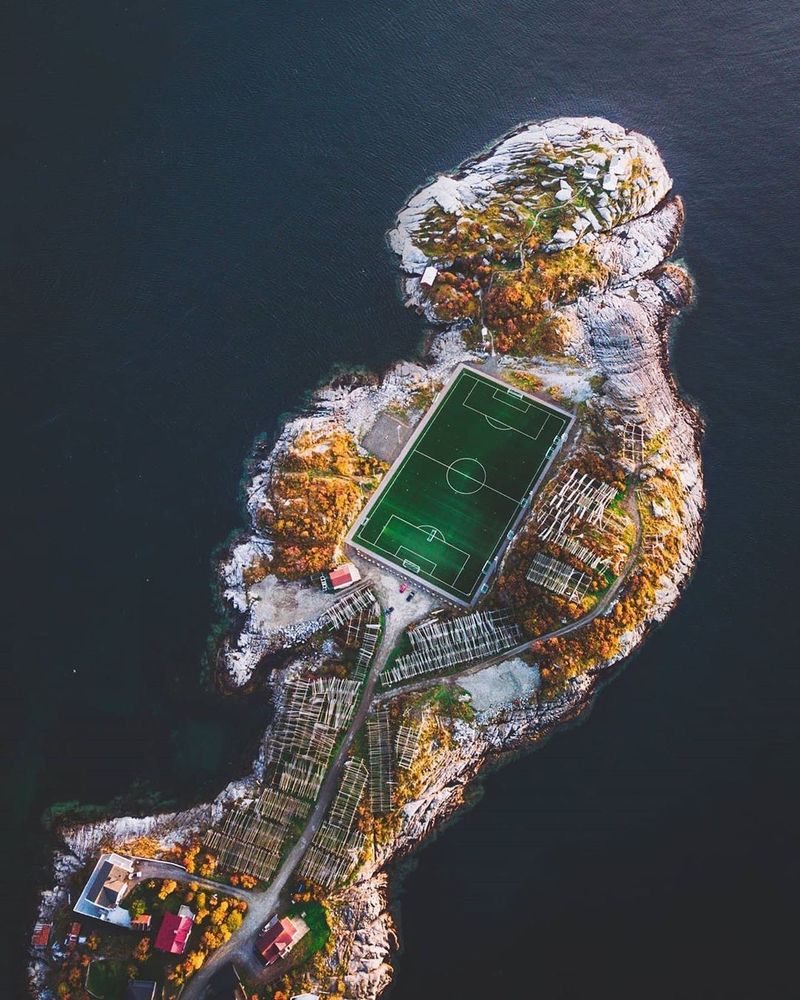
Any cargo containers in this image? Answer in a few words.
No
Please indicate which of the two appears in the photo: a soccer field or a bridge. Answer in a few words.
soccer field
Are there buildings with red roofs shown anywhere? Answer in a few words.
Yes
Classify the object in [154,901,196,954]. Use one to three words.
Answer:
house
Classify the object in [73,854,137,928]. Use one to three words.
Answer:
house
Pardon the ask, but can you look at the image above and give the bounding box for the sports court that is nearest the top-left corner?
[361,412,410,464]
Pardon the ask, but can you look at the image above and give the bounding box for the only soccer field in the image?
[346,363,575,607]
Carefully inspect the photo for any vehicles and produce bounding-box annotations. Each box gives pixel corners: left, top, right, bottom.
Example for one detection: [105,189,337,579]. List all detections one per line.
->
[406,591,415,601]
[400,583,408,593]
[385,606,395,615]
[130,871,143,879]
